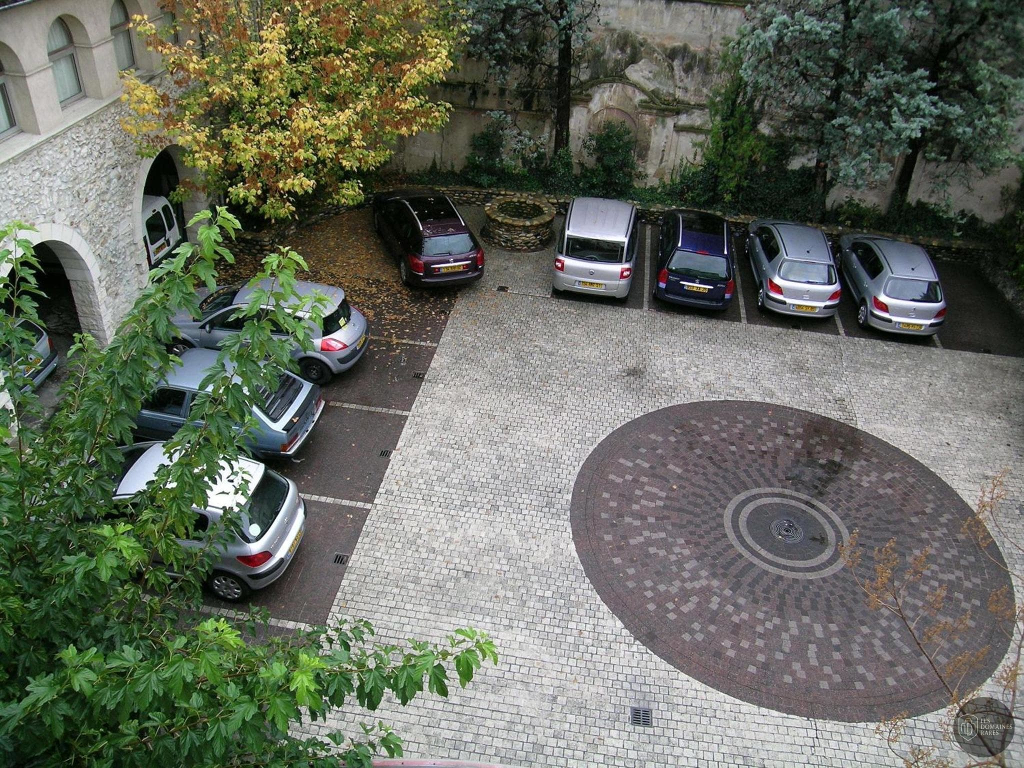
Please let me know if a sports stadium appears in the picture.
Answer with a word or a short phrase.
No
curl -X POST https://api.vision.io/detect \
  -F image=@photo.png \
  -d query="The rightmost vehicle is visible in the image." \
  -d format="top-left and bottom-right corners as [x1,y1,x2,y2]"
[837,232,950,334]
